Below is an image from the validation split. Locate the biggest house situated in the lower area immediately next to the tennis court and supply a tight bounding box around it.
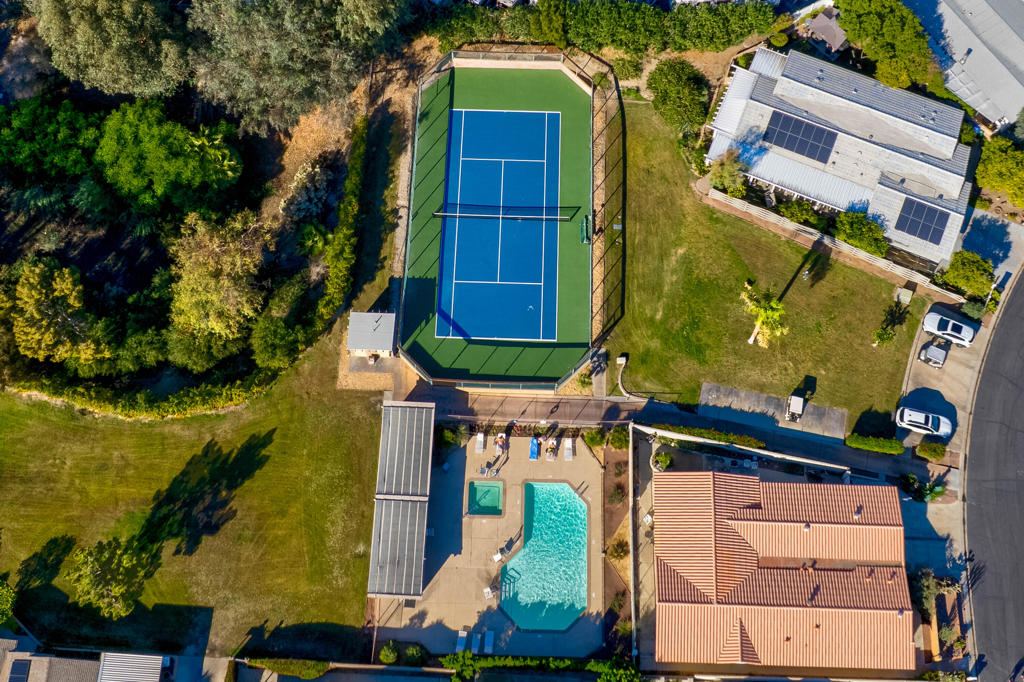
[653,472,917,670]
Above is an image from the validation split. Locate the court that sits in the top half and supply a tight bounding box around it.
[397,58,593,396]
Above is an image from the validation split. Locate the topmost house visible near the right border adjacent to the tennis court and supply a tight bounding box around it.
[702,45,973,264]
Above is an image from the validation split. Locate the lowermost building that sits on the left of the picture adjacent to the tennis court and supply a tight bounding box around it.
[364,399,436,599]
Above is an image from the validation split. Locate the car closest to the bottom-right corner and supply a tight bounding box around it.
[894,407,953,441]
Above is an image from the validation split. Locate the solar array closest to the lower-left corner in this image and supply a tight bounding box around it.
[9,661,32,682]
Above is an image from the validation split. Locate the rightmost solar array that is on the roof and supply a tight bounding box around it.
[893,196,952,246]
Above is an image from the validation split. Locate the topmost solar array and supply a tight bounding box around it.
[762,108,840,164]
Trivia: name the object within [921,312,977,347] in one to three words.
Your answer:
car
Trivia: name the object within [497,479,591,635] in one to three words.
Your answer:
swimming pool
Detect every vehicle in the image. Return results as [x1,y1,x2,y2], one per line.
[919,344,951,366]
[921,312,977,347]
[784,397,806,425]
[894,407,953,441]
